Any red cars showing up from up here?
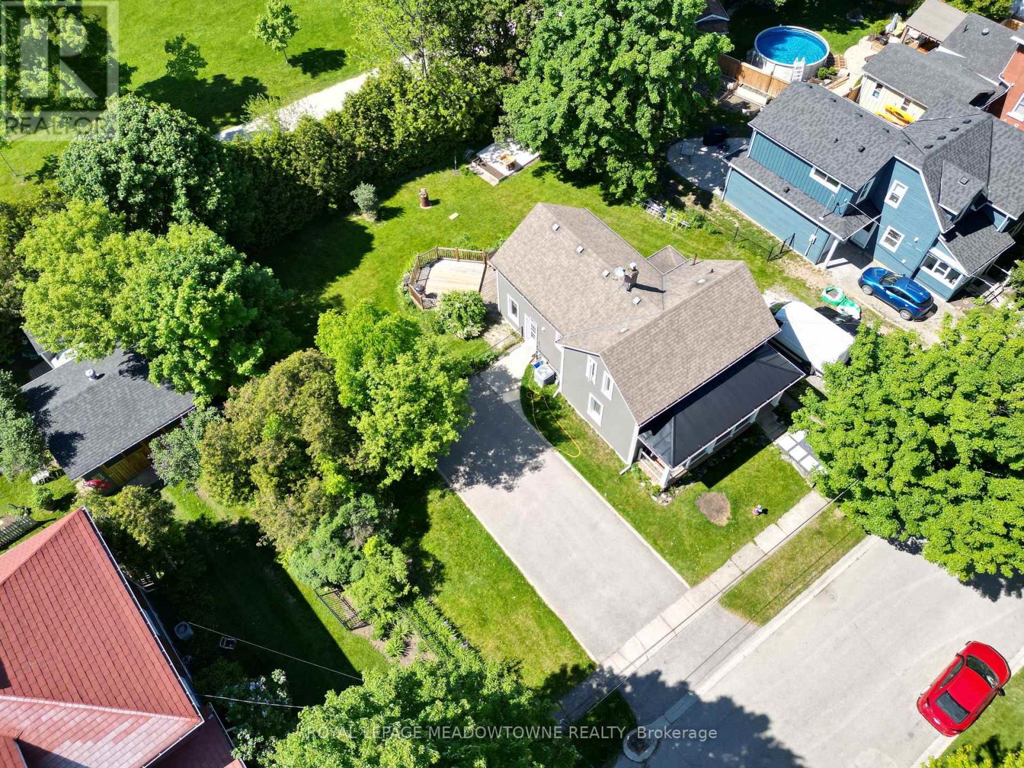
Yes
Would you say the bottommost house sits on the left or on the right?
left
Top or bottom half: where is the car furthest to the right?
bottom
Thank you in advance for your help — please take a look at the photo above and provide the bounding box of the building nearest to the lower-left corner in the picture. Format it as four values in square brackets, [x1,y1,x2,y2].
[0,507,250,768]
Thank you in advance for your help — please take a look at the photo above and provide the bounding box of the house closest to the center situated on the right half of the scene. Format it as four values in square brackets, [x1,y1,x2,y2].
[485,203,805,491]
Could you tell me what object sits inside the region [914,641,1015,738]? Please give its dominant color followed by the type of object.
red car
